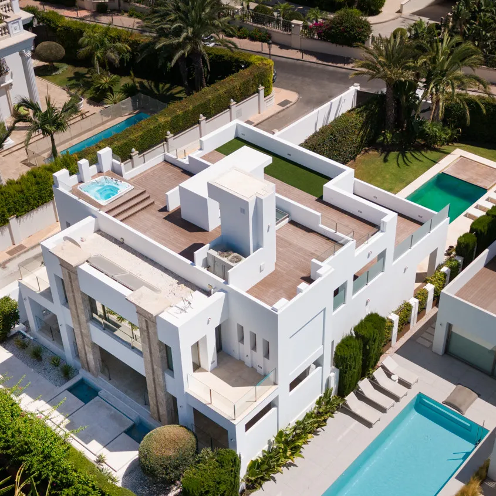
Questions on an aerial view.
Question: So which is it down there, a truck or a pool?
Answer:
pool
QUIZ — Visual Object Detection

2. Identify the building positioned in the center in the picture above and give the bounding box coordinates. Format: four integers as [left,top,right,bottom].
[12,118,450,472]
